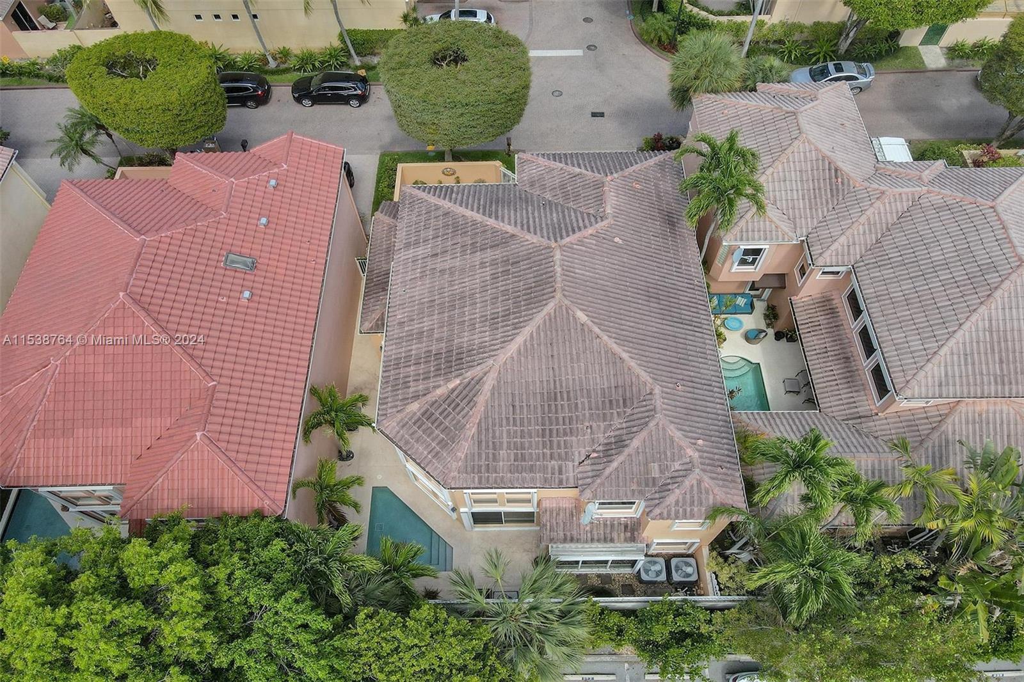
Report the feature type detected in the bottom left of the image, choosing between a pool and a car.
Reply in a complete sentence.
It is a pool that can be seen in the bottom left of the image.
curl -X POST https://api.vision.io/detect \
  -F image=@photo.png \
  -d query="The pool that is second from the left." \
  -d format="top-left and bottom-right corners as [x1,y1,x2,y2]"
[365,486,454,575]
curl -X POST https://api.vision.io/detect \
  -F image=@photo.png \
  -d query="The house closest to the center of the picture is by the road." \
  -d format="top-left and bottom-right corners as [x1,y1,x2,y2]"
[355,149,749,570]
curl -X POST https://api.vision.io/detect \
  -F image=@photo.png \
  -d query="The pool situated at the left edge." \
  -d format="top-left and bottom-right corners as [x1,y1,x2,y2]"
[0,493,86,580]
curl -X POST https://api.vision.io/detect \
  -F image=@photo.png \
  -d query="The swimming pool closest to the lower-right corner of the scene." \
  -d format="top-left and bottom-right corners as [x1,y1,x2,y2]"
[722,358,772,427]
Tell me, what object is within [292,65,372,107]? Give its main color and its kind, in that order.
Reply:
black car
